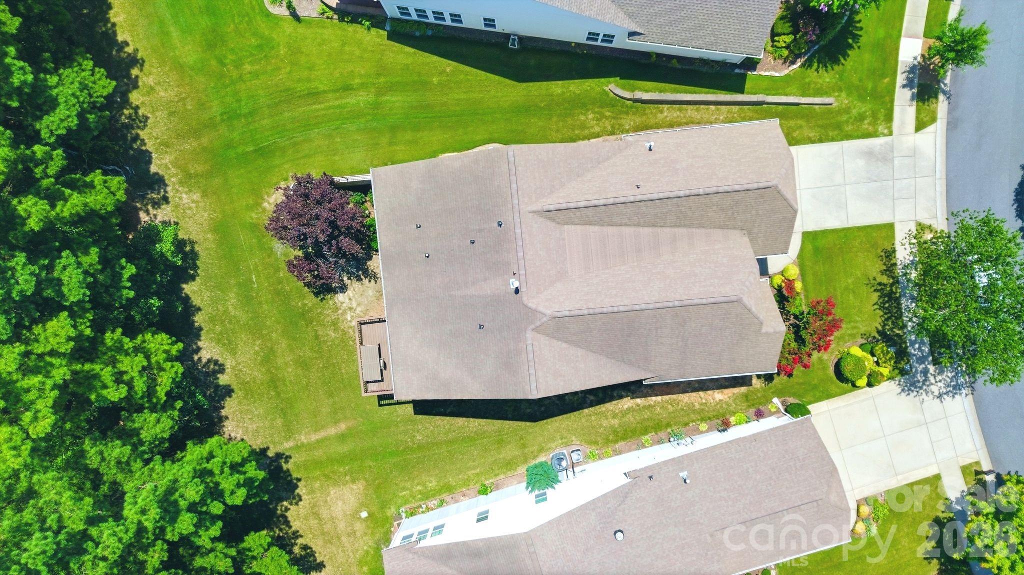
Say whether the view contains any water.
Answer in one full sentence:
No, water can't be seen anywhere here.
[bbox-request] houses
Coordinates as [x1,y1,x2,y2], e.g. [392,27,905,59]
[379,397,855,575]
[369,117,802,402]
[372,0,782,64]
